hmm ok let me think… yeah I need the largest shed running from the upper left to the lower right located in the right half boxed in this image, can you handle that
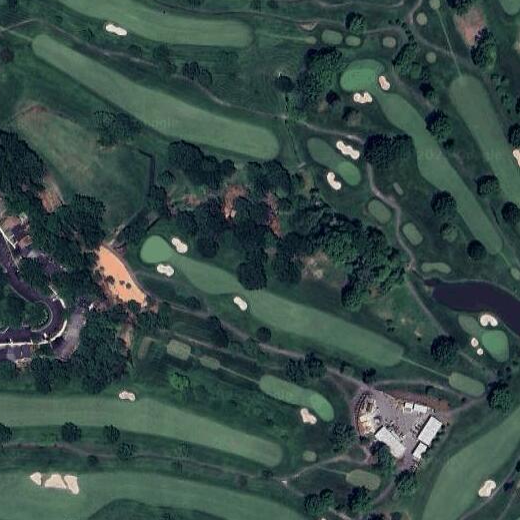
[375,426,408,458]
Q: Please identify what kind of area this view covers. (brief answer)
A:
golf course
